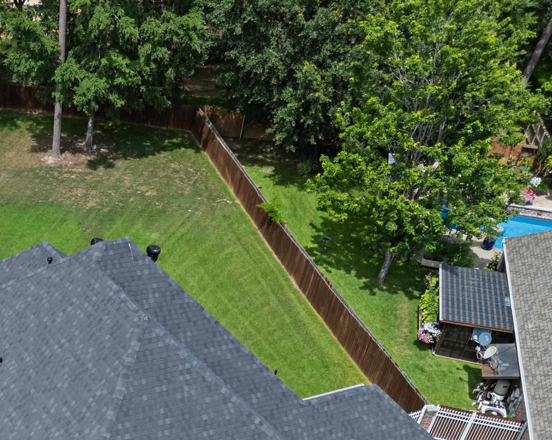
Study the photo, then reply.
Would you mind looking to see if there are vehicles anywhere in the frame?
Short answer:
No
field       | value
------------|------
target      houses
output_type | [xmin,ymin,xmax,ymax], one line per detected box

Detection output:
[501,224,552,440]
[0,235,440,440]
